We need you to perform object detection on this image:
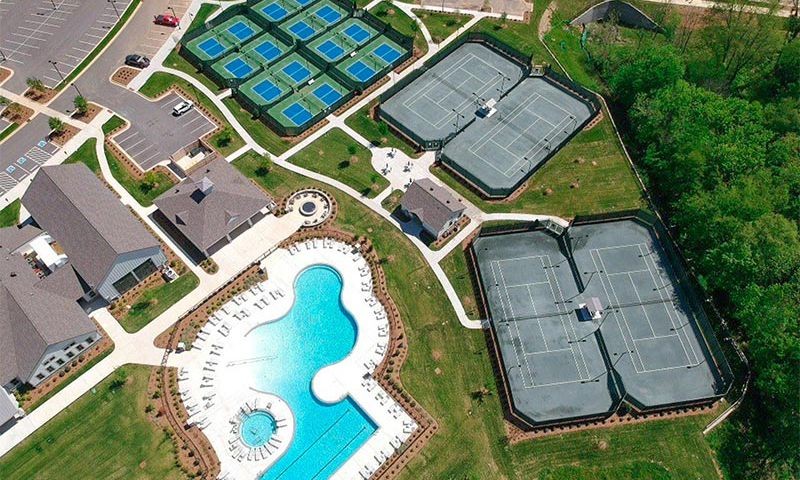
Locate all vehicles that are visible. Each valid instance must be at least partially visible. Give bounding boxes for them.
[170,99,194,114]
[153,13,178,24]
[125,55,148,66]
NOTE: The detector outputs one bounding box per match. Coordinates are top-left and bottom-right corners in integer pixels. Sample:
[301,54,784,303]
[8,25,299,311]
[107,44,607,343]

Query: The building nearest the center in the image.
[399,178,466,238]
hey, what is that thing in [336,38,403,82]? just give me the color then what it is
green sports court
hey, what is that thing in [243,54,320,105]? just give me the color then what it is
green sports court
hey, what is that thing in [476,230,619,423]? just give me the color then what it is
gray tennis court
